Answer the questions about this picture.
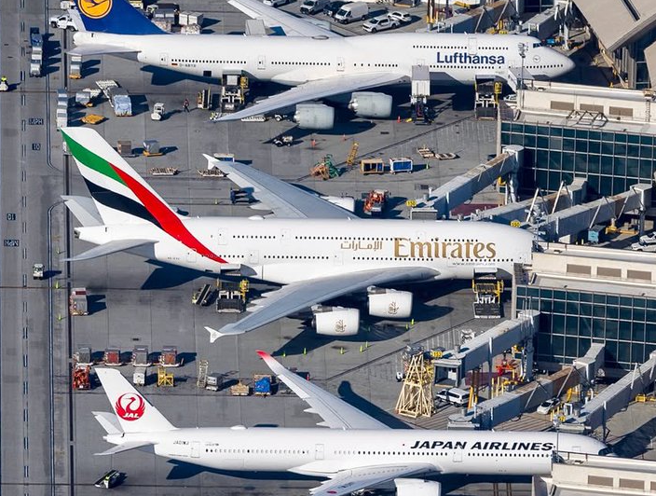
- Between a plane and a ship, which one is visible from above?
plane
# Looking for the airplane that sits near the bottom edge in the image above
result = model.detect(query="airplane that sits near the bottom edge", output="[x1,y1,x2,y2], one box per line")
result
[93,352,615,496]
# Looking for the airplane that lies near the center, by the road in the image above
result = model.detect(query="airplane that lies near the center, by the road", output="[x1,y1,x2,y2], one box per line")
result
[60,127,539,336]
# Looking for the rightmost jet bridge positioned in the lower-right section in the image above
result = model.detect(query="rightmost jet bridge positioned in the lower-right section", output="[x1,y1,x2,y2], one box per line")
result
[547,346,656,446]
